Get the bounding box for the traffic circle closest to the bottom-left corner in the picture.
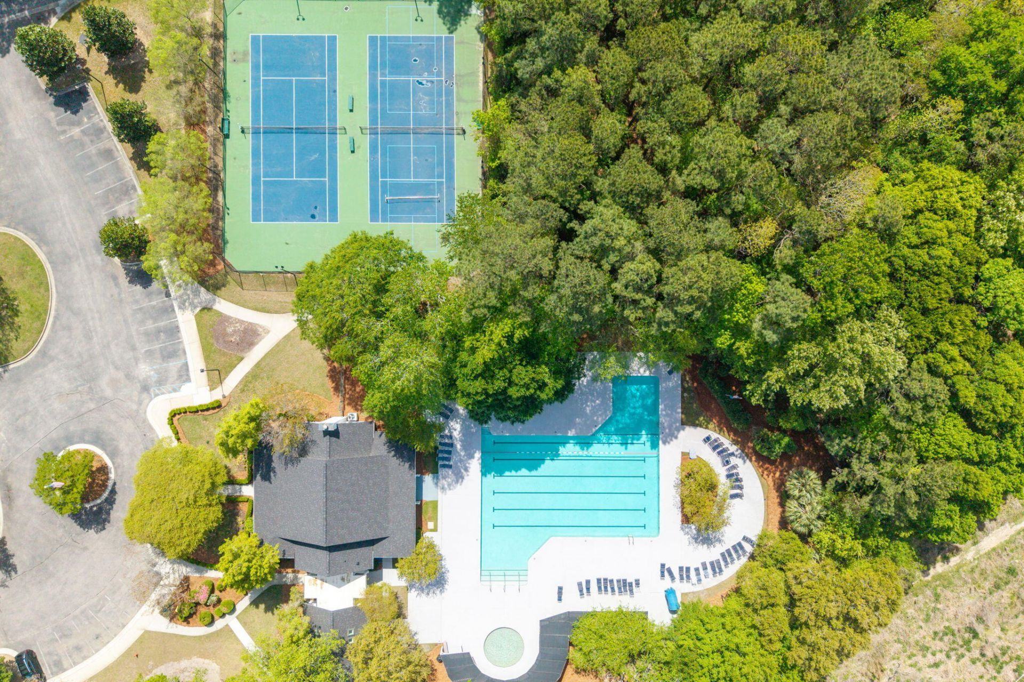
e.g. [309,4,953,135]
[55,444,115,506]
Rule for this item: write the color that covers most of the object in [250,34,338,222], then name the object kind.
blue tennis court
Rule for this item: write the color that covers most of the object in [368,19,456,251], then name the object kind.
blue tennis court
